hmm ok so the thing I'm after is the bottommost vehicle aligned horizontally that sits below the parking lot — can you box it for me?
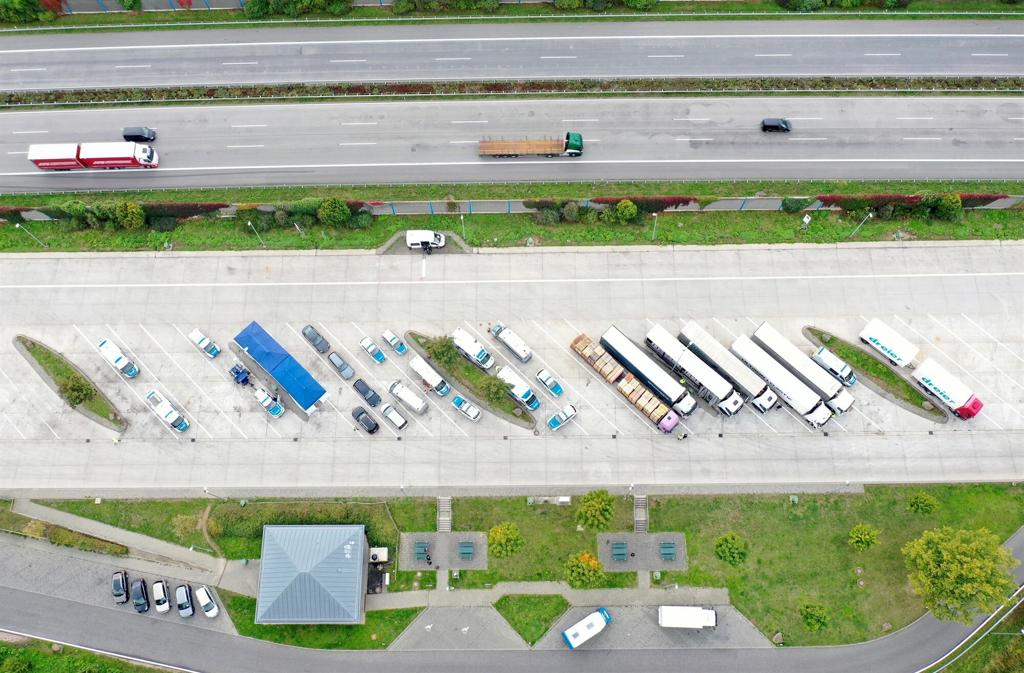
[656,606,718,630]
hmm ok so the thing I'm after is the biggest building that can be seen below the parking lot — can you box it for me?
[254,525,366,624]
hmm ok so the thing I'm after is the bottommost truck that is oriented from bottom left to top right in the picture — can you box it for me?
[562,606,611,649]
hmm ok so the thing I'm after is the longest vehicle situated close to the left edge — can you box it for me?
[28,142,163,172]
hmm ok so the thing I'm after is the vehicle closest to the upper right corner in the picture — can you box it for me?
[759,118,792,135]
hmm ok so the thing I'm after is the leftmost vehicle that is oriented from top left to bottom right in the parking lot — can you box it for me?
[95,336,142,381]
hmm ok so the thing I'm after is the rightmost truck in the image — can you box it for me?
[857,319,983,423]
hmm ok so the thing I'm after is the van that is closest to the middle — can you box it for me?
[492,325,533,366]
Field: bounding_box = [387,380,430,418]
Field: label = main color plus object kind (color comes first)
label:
white van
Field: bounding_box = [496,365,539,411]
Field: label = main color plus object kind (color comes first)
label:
white van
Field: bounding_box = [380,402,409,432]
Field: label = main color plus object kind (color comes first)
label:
white car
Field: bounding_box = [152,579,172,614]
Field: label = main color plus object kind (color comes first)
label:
white car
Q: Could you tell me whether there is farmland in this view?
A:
No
